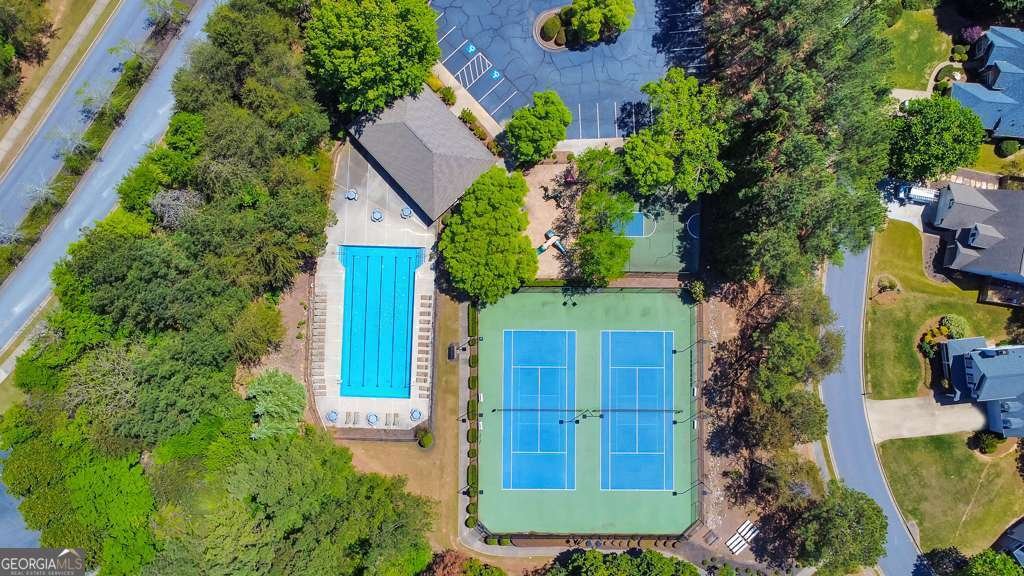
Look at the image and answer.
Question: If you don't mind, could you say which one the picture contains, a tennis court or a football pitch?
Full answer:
This aerial view contains a tennis court.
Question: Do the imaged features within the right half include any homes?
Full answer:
Yes, you'll find a home within the right half.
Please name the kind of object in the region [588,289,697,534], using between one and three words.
tennis court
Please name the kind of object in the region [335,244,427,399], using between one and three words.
swimming pool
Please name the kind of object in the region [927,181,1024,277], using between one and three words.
house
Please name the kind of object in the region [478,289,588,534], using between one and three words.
tennis court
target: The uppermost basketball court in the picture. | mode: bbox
[612,190,701,272]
